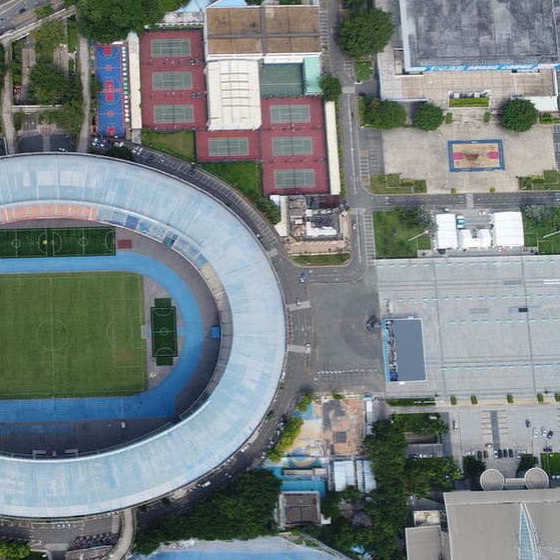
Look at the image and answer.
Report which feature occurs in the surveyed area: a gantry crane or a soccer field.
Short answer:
soccer field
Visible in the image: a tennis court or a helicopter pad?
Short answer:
tennis court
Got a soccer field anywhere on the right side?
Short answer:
No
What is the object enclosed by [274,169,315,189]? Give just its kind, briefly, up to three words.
tennis court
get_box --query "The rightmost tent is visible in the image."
[487,211,524,249]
